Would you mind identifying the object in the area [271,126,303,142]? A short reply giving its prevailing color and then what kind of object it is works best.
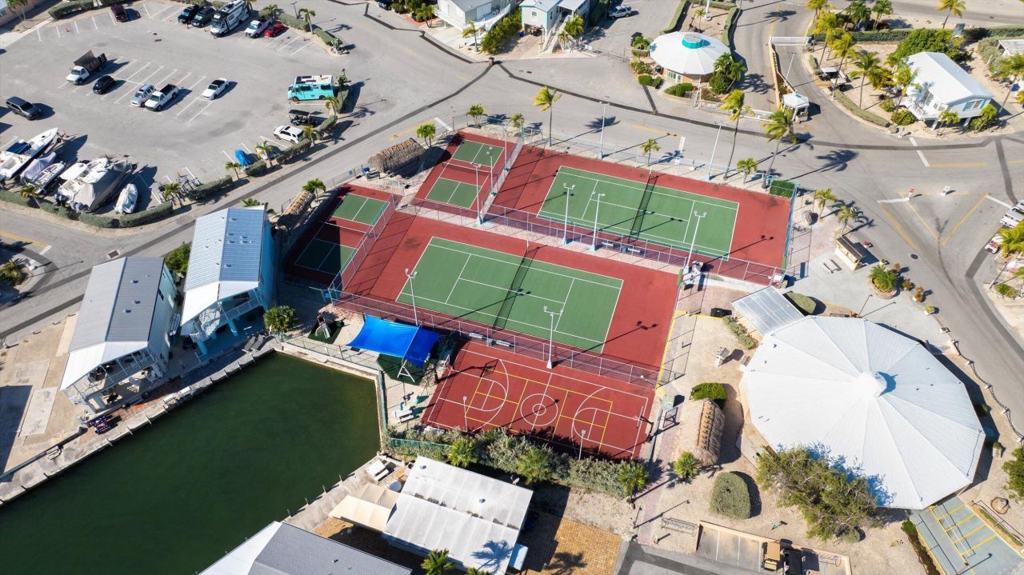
white car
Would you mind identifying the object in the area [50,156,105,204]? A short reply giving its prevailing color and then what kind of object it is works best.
white boat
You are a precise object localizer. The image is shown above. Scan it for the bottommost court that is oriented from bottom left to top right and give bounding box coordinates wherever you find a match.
[280,183,402,287]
